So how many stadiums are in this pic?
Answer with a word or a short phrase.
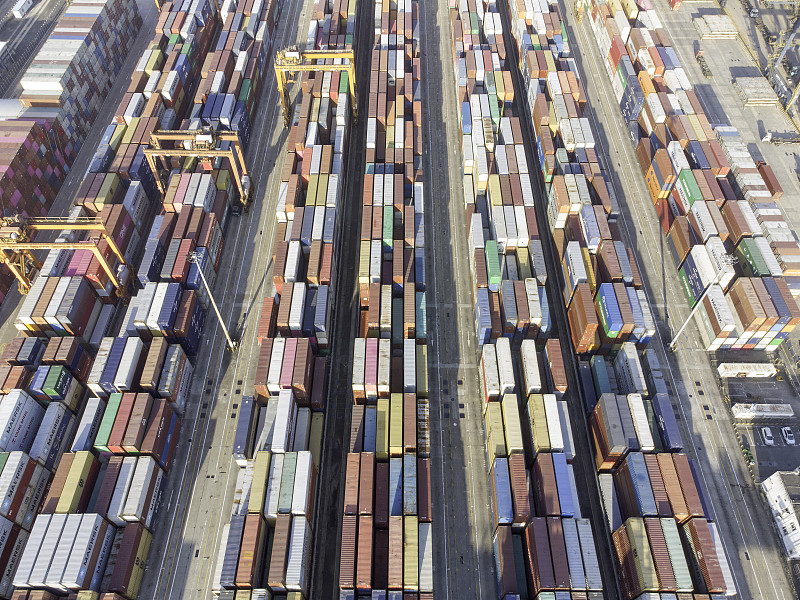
none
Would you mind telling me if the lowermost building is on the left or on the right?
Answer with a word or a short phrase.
right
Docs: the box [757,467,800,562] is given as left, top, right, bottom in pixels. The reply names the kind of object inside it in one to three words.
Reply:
building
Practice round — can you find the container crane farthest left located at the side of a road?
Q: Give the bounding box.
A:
[0,220,137,299]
